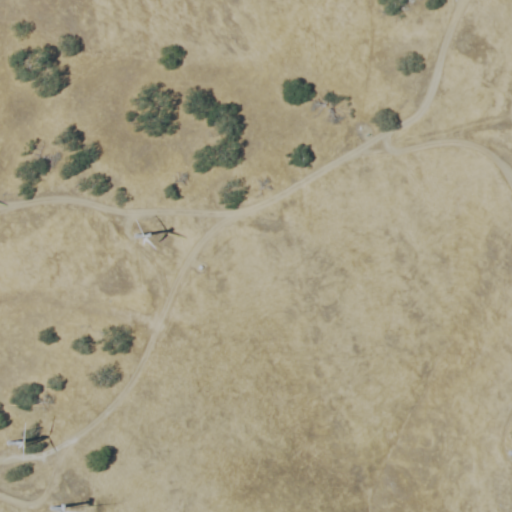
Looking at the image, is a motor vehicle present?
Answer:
No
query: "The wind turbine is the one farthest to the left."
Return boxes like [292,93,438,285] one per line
[5,425,28,460]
